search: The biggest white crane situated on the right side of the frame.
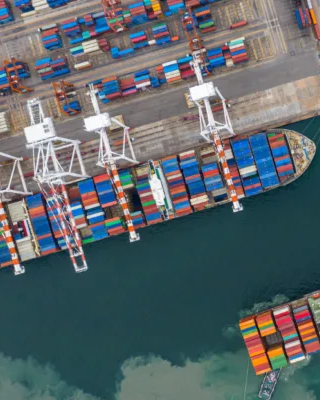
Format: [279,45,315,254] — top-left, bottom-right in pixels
[188,48,244,214]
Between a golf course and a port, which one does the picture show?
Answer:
port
